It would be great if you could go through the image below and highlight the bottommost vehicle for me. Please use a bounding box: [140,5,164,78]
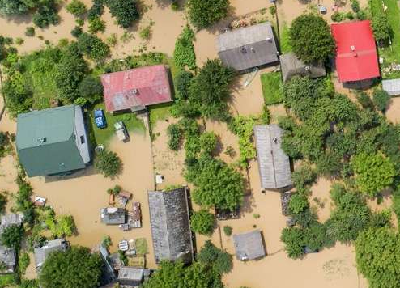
[115,121,129,140]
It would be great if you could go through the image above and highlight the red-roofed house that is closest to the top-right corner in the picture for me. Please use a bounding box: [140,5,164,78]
[332,19,379,87]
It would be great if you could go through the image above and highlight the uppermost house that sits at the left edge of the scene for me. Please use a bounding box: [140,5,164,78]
[11,104,90,177]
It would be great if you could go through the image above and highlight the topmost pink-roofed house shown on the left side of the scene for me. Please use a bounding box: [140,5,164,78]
[97,65,173,112]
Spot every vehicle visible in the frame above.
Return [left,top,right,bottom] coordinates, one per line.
[94,109,106,128]
[115,121,129,140]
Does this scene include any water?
Yes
